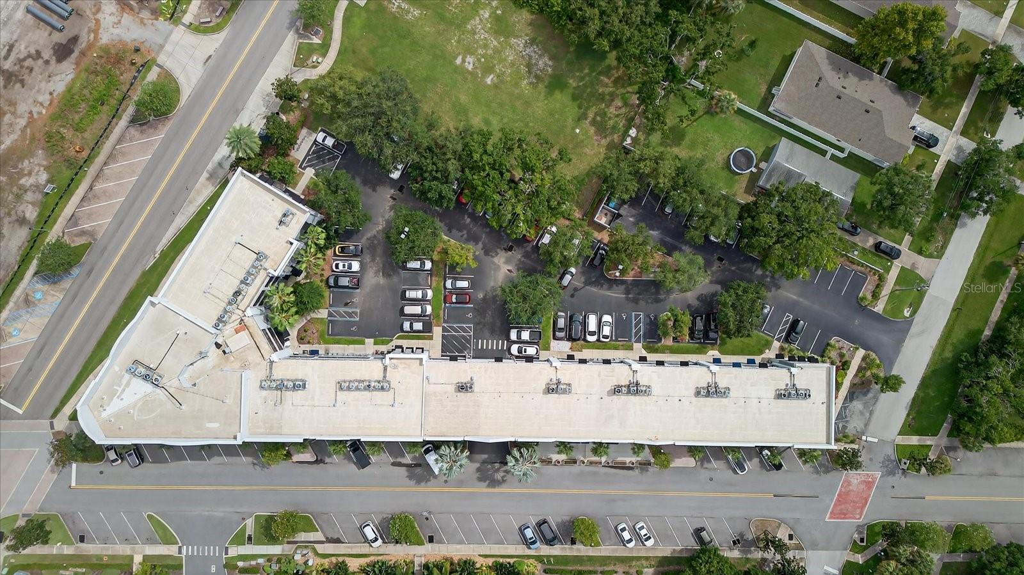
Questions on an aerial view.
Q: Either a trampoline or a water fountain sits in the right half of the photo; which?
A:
trampoline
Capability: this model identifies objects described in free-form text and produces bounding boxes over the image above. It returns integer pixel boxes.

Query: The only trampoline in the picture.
[730,147,756,173]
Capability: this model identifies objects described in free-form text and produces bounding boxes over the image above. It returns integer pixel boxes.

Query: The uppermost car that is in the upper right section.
[911,126,939,147]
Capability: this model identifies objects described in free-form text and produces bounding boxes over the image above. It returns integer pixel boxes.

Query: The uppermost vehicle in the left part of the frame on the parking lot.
[315,131,347,155]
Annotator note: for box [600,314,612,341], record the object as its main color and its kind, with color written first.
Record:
white vehicle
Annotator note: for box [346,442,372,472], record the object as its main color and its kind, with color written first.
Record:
black vehicle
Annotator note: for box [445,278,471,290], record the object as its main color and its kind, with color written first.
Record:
white vehicle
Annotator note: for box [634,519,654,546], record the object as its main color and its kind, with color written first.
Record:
white car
